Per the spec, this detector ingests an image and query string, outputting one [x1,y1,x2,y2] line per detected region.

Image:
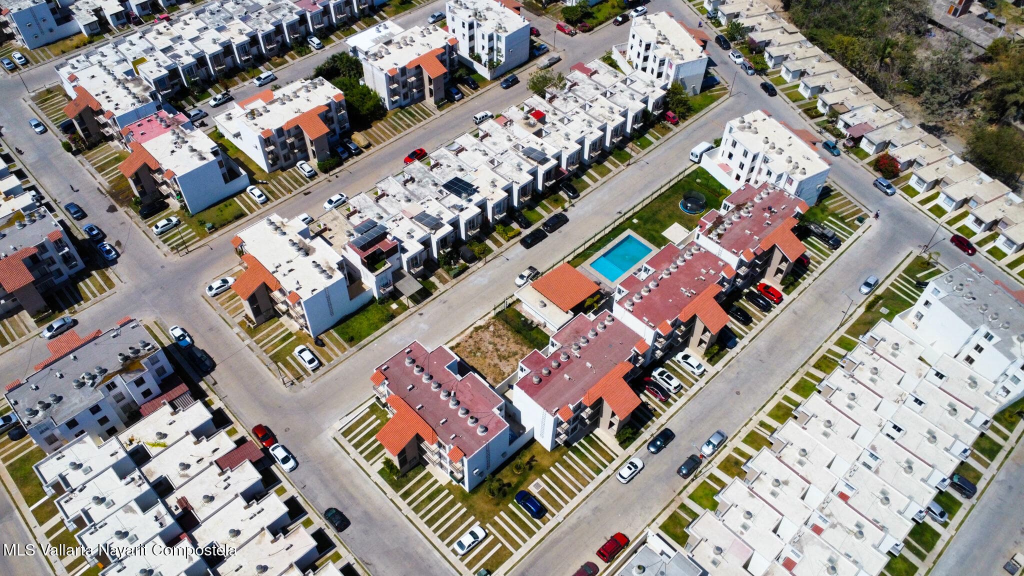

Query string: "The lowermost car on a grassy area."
[452,523,489,558]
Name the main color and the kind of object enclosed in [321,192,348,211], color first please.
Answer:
white car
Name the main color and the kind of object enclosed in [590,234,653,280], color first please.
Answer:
blue swimming pool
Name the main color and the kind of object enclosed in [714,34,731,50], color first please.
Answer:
black car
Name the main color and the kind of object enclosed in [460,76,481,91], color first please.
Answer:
black car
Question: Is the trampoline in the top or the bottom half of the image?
top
